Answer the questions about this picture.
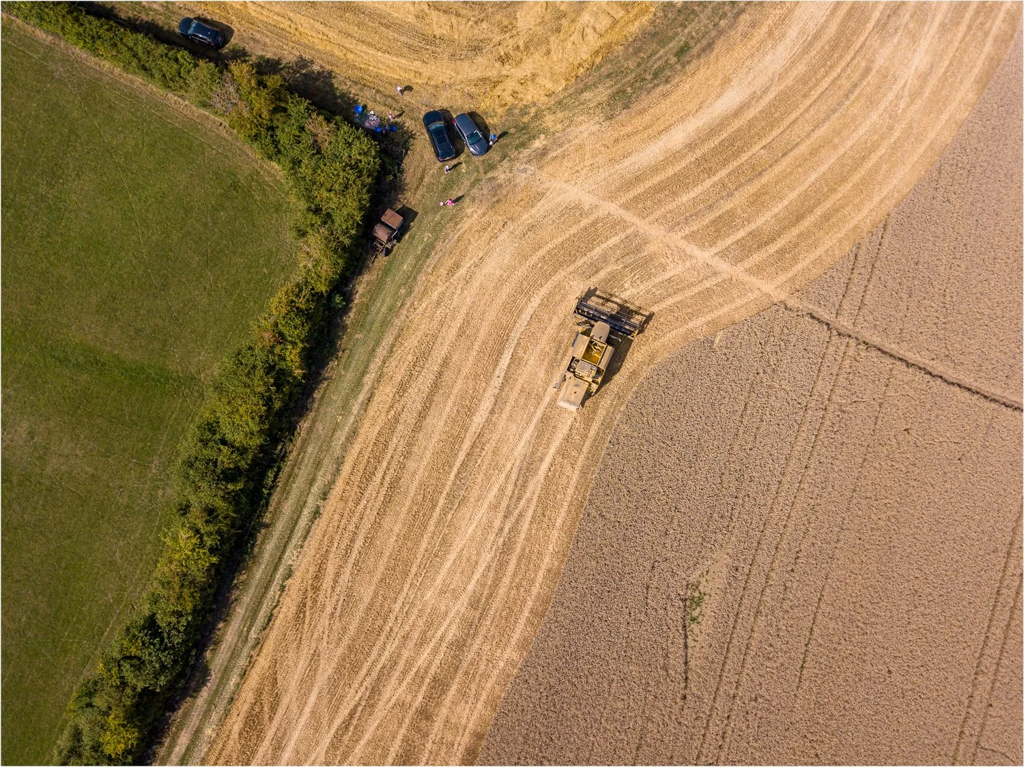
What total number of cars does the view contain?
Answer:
3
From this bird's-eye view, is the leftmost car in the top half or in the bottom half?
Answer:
top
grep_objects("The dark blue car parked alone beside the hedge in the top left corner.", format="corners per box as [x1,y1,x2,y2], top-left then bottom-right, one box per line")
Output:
[177,15,227,48]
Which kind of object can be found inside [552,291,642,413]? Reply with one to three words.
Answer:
work vehicle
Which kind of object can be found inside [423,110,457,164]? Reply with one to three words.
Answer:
car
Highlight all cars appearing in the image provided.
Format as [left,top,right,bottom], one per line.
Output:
[423,110,457,164]
[455,111,490,157]
[177,15,227,48]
